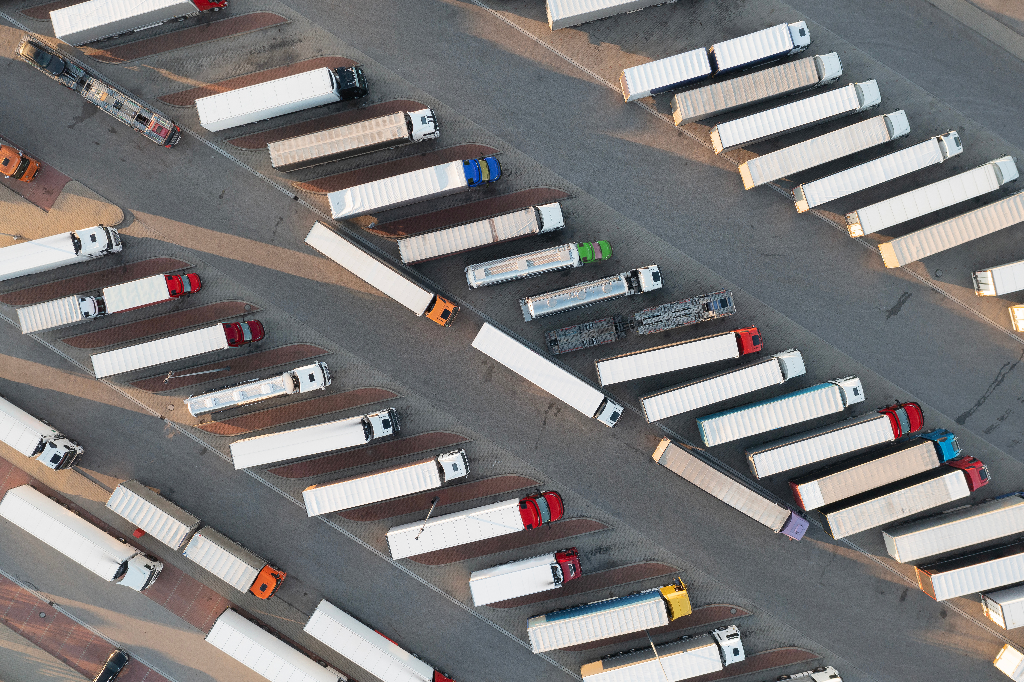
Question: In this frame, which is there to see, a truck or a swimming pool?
truck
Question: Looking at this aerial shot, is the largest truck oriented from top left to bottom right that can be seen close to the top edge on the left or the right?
left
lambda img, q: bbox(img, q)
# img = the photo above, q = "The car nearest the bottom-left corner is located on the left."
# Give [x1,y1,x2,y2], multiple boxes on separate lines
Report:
[94,648,129,682]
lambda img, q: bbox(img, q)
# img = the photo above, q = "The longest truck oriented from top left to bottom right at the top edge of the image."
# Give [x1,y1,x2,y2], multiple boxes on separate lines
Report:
[14,32,190,152]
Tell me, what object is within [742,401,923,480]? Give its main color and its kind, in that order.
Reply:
white truck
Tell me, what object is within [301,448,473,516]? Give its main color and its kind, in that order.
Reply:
white truck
